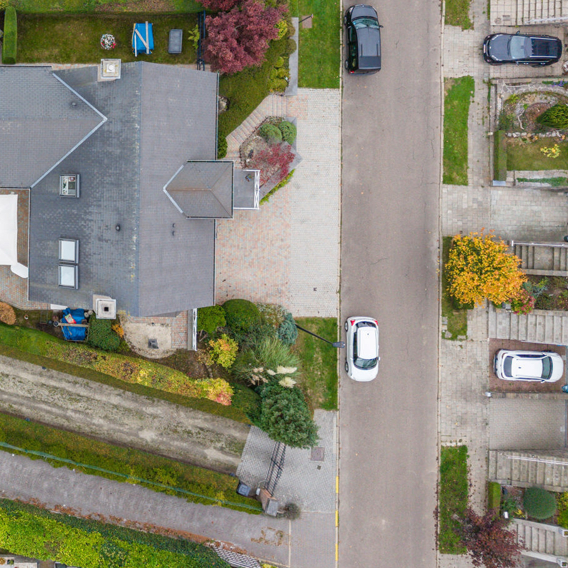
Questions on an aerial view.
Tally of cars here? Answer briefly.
4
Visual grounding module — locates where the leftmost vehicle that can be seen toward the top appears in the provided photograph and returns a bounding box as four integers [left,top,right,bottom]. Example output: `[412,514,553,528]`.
[342,5,383,75]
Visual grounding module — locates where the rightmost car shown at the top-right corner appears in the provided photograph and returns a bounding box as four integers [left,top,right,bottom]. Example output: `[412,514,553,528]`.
[478,31,563,67]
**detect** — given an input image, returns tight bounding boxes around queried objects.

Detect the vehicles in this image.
[342,5,383,75]
[478,31,563,67]
[487,347,563,385]
[342,315,380,380]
